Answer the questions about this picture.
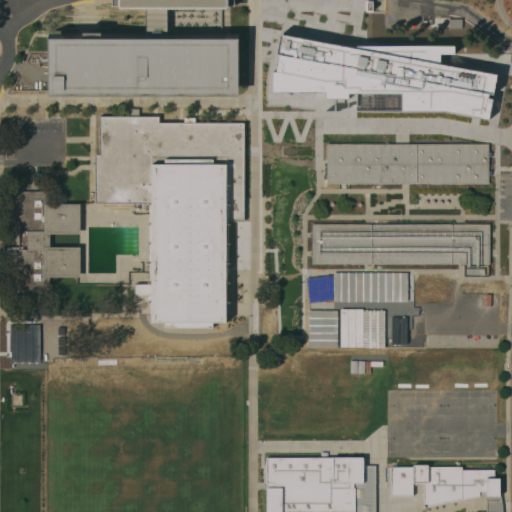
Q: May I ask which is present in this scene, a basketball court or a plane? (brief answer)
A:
basketball court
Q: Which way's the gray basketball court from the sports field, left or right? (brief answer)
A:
to the right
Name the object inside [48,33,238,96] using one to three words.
building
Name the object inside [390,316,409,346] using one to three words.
barn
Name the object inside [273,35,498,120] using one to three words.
building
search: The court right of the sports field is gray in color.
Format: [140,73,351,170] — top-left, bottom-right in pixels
[388,390,497,458]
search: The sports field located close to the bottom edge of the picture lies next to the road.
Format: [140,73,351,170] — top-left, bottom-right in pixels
[48,357,249,512]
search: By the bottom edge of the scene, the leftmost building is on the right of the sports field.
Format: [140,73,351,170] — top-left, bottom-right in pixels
[267,452,377,512]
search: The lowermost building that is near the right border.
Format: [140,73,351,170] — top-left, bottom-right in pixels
[392,464,503,512]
